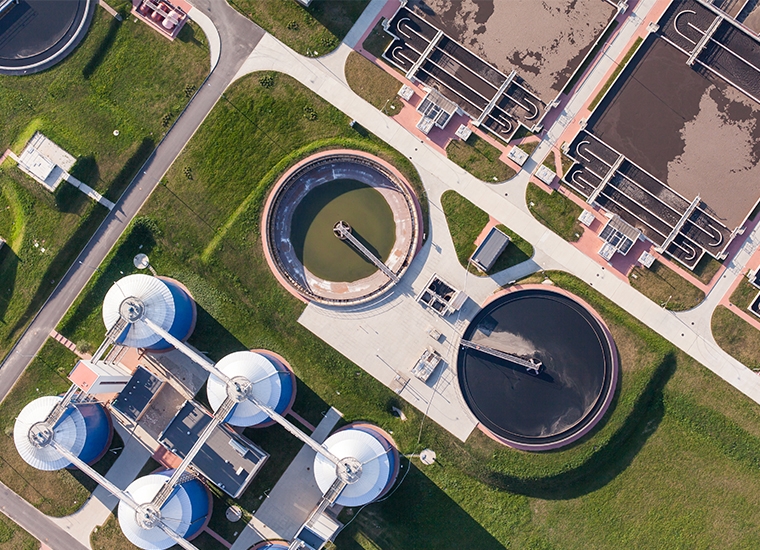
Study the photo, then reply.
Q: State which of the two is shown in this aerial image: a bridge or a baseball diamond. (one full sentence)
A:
The image shows a bridge.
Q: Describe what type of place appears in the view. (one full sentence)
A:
What you see here is an industrial area.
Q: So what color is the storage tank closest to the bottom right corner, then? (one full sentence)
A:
From above, the storage tank closest to the bottom right corner appears black.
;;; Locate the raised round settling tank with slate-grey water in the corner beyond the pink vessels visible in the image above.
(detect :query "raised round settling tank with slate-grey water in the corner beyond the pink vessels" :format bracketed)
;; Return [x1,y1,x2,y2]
[0,0,96,76]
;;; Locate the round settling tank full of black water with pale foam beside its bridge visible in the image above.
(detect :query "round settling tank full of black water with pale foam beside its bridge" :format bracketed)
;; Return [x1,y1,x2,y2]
[459,286,619,451]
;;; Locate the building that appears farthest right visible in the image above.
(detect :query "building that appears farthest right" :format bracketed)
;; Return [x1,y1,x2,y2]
[597,213,643,261]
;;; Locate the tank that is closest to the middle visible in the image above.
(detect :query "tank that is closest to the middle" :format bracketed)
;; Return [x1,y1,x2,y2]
[262,149,422,303]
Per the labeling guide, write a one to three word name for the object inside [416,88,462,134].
building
